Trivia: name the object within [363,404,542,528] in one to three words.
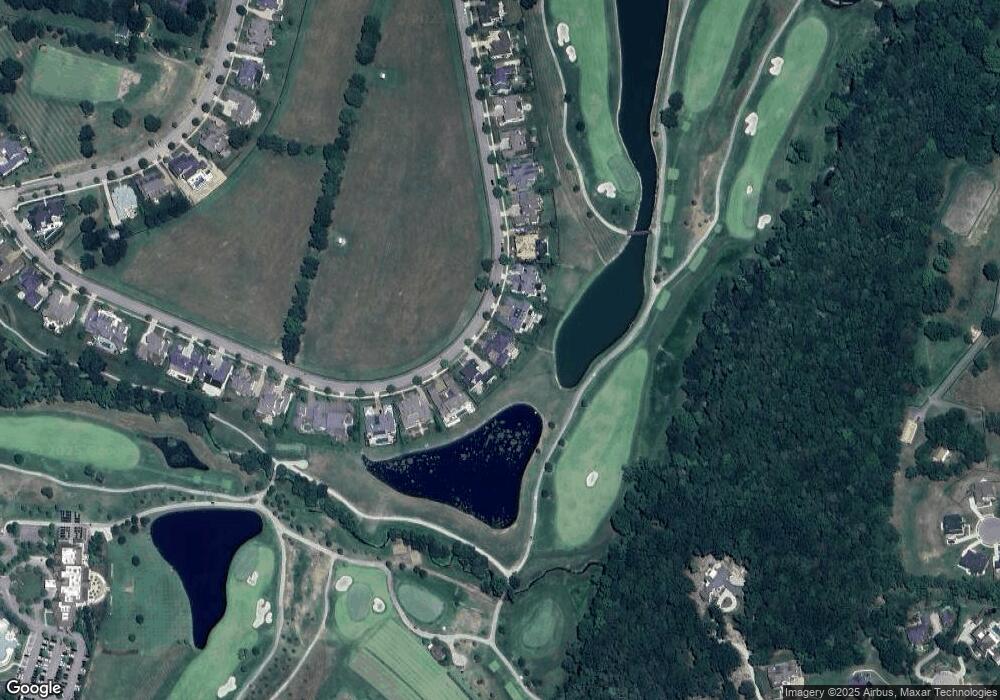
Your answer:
pond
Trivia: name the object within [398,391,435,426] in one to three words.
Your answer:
house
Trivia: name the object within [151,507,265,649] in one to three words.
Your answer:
pond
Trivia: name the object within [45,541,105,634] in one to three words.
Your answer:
building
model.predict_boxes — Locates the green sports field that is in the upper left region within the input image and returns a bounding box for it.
[32,46,142,103]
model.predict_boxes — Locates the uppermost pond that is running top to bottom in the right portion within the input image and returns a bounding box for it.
[554,0,669,389]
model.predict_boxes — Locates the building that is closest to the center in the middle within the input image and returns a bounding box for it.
[479,330,517,369]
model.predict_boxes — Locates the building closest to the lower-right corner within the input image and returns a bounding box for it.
[967,620,1000,658]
